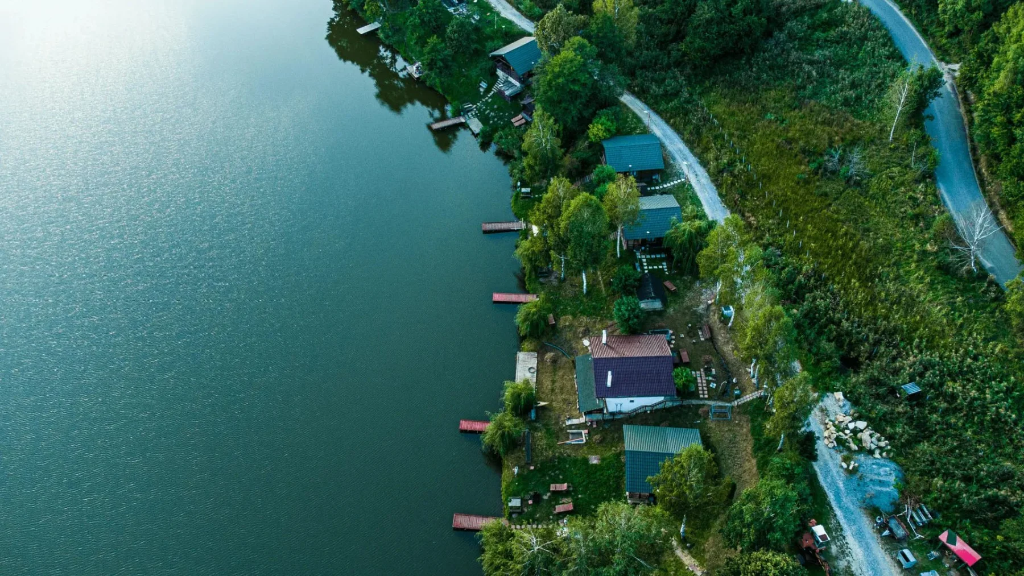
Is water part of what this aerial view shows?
Yes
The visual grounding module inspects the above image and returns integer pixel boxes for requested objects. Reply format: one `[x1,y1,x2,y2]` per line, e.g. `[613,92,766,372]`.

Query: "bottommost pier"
[453,513,509,533]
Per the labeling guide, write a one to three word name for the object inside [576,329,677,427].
house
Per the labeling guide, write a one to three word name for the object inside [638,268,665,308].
shed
